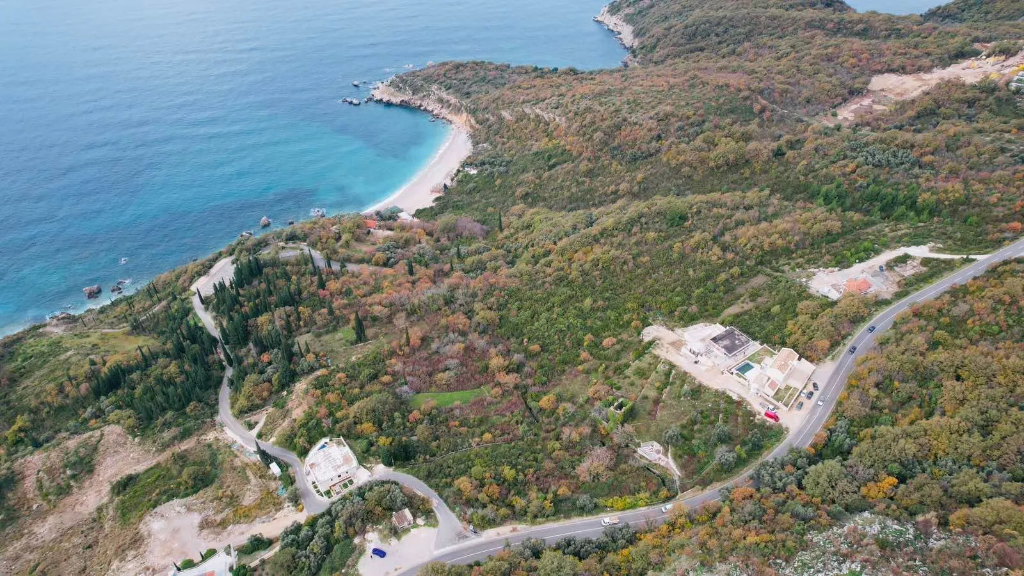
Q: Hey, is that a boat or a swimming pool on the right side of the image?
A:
swimming pool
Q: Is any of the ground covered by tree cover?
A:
Yes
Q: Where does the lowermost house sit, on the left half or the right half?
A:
left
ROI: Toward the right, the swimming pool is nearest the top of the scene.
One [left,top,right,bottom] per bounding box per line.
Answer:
[732,361,764,381]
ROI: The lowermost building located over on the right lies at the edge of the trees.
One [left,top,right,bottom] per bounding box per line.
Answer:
[636,440,678,475]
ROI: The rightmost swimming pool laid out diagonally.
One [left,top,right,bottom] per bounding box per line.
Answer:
[310,438,333,460]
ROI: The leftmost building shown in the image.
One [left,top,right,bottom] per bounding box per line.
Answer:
[179,543,237,576]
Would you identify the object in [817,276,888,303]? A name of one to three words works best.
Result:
house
